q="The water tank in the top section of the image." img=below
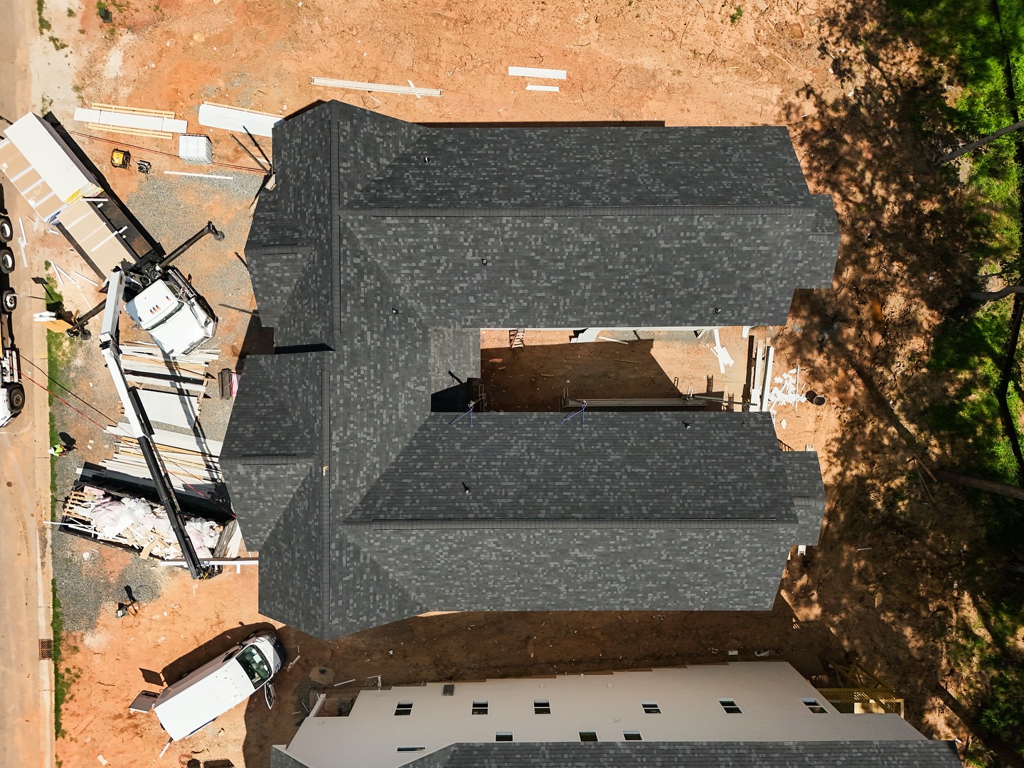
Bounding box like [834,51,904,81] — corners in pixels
[173,132,210,162]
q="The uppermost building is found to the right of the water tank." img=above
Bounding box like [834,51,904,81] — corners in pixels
[220,99,846,640]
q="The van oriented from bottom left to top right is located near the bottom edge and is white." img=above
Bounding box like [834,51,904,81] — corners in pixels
[138,627,295,755]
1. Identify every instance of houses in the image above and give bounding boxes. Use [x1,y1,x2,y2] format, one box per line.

[270,659,966,768]
[220,99,846,640]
